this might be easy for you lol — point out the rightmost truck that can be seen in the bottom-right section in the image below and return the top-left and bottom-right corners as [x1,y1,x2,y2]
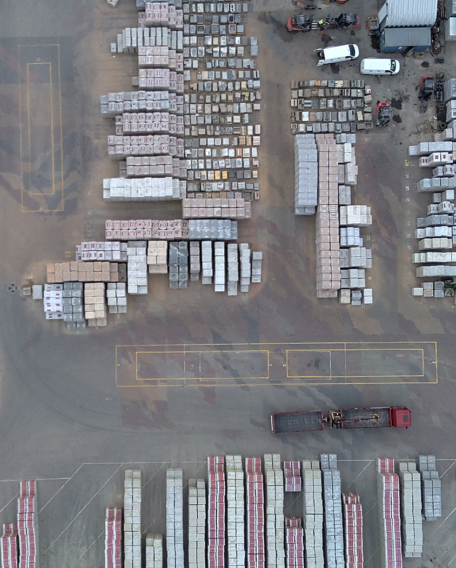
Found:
[331,408,415,433]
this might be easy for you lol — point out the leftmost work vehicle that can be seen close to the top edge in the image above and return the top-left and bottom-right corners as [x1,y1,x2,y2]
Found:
[289,17,320,32]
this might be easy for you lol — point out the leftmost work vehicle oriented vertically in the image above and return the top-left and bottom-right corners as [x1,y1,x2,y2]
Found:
[375,103,391,135]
